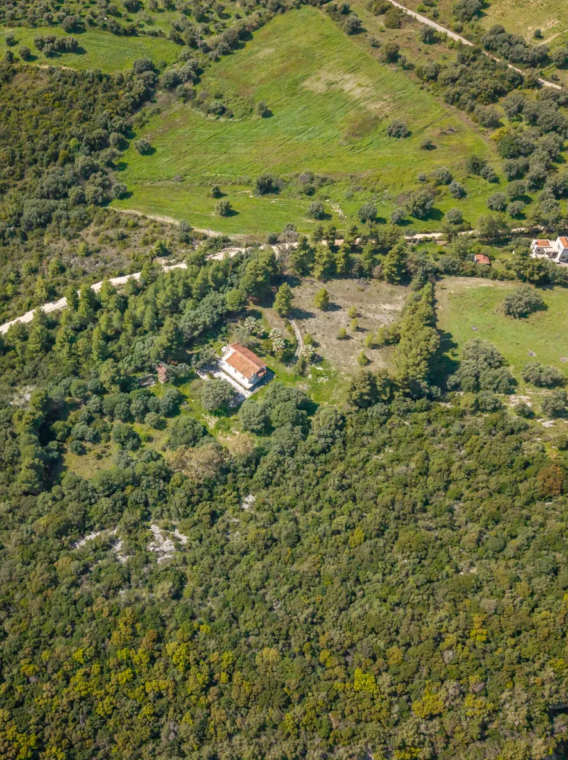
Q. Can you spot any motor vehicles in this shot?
No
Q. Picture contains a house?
Yes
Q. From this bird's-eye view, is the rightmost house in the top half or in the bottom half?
top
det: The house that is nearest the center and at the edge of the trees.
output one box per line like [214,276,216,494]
[217,344,270,393]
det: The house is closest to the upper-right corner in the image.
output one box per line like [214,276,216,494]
[531,237,568,260]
